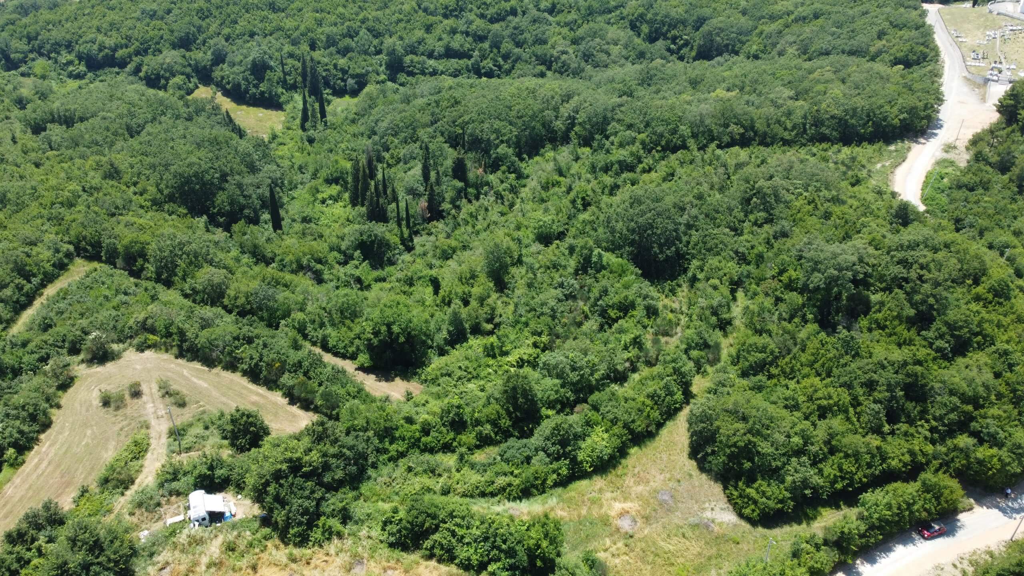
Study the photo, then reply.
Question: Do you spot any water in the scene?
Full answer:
No, no water is visible.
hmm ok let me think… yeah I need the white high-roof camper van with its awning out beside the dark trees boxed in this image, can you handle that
[187,489,228,527]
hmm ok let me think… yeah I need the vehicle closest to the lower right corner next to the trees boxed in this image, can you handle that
[921,518,951,537]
